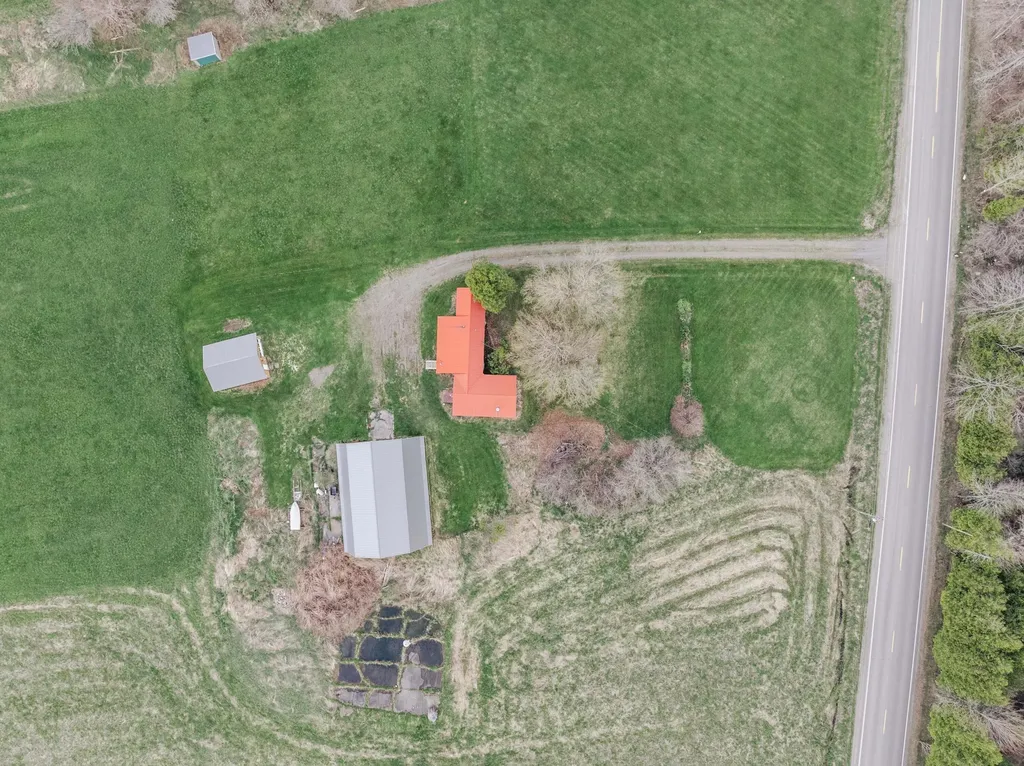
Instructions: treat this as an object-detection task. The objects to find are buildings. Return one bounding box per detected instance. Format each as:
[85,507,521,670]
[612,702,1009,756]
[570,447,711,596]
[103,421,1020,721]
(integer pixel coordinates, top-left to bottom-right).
[187,32,222,67]
[436,287,517,417]
[335,435,432,558]
[201,333,272,393]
